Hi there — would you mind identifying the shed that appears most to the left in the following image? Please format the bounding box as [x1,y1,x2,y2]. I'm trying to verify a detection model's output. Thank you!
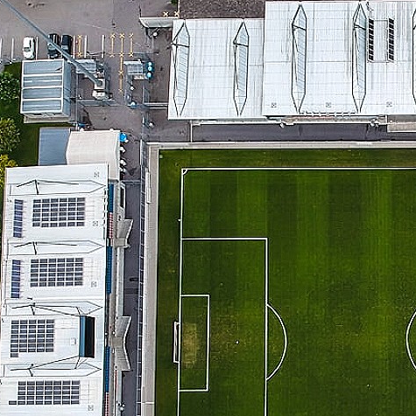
[19,58,74,125]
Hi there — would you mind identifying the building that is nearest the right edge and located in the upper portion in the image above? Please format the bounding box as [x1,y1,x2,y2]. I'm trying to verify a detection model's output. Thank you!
[123,59,149,80]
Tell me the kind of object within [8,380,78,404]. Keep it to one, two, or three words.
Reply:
solar array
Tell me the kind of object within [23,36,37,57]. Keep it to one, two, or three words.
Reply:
car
